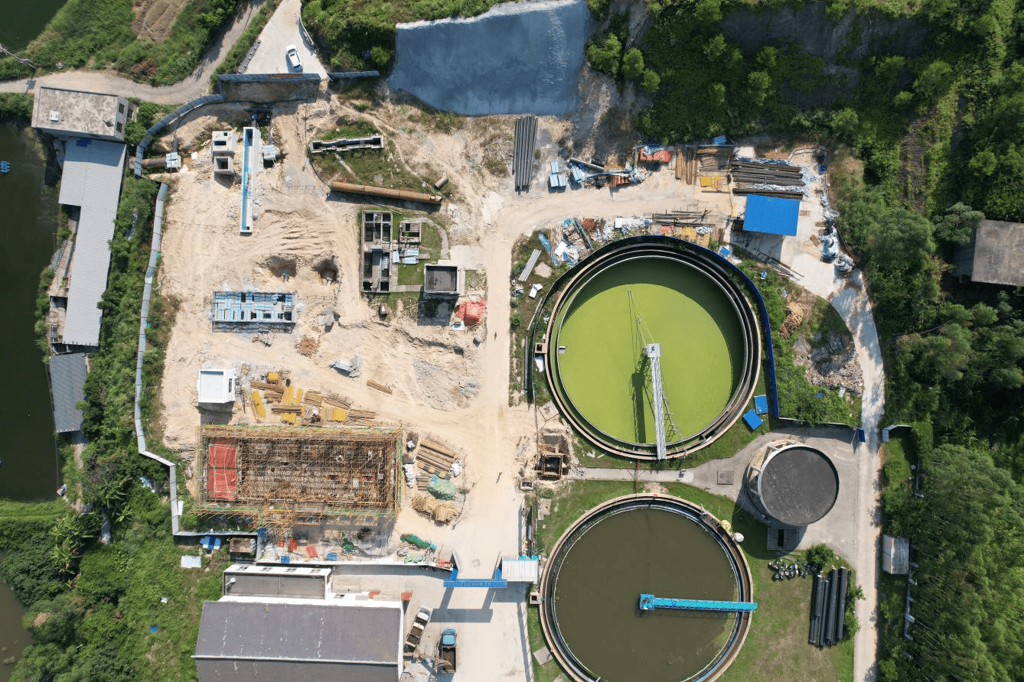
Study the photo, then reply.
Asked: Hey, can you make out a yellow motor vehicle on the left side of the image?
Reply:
No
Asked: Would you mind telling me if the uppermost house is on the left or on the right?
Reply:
left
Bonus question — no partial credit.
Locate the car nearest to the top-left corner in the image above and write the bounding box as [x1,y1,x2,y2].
[284,42,302,72]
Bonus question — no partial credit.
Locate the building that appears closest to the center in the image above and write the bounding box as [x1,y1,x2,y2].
[424,264,461,295]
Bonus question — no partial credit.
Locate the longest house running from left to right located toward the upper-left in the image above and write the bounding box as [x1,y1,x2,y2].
[30,86,144,148]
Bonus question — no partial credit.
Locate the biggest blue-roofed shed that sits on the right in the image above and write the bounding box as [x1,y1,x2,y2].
[735,194,800,240]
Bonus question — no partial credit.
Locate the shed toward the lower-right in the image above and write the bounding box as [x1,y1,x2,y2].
[874,529,908,574]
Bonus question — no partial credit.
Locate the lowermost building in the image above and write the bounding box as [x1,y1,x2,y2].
[190,565,407,682]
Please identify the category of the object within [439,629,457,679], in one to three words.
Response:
vehicle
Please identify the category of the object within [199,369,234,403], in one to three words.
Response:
building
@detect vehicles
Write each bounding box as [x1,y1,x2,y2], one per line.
[405,606,433,654]
[284,42,302,72]
[439,629,457,679]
